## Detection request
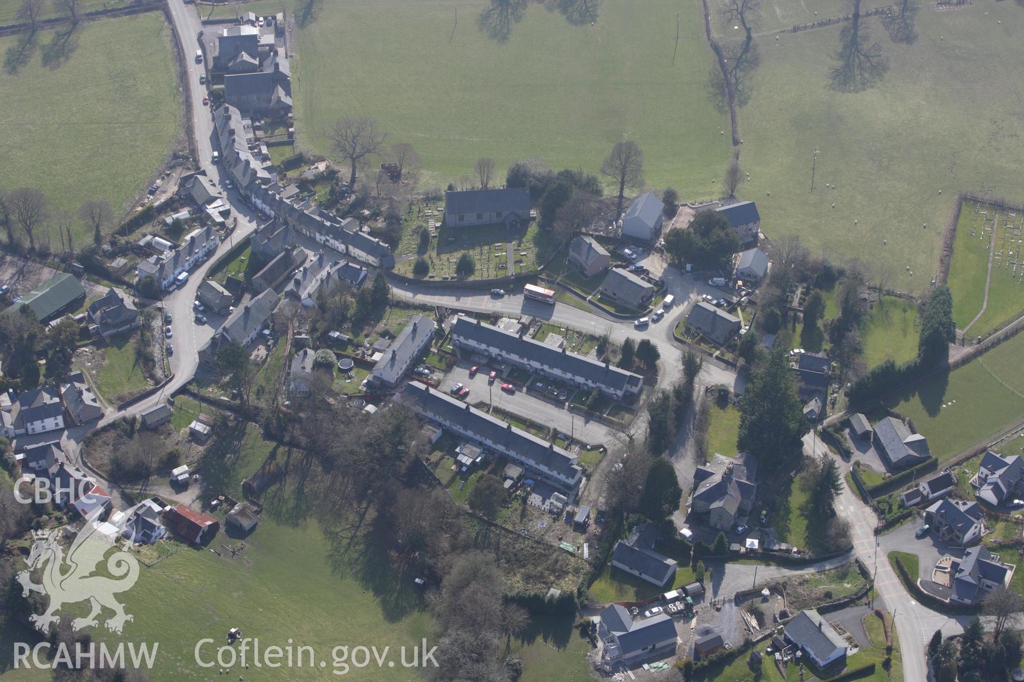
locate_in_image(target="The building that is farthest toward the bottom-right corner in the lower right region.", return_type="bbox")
[952,546,1009,606]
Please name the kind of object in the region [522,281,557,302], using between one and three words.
bus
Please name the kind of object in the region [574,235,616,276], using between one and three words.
house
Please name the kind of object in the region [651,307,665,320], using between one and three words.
vehicle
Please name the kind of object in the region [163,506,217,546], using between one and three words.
barn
